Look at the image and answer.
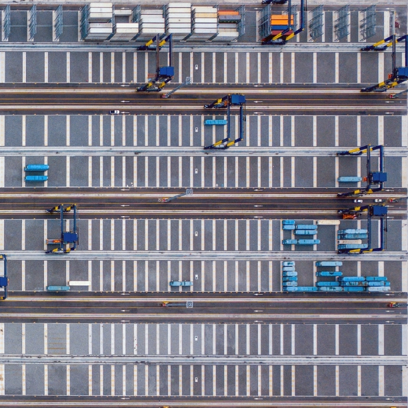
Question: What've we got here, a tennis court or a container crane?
container crane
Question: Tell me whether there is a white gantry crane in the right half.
No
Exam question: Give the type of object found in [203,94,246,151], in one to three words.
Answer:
container crane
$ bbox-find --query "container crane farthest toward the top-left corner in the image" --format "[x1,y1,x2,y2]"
[137,34,175,93]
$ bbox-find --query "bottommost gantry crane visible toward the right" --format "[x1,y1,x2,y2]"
[338,205,387,256]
